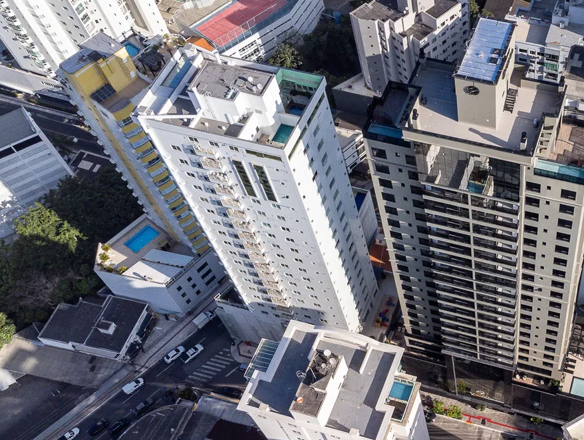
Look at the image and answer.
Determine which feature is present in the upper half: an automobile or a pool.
pool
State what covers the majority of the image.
buildings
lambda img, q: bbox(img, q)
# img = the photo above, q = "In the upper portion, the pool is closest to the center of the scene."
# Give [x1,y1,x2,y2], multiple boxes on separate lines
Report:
[270,124,297,145]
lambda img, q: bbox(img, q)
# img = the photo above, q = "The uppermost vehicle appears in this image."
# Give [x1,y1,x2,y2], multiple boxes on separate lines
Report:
[187,307,217,331]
